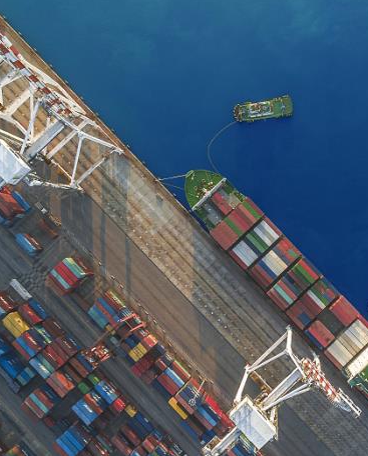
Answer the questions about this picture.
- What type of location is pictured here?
port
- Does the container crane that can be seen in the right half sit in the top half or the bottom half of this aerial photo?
bottom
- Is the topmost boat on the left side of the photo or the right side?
right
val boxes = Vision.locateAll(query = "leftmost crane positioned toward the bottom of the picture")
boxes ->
[80,307,148,368]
